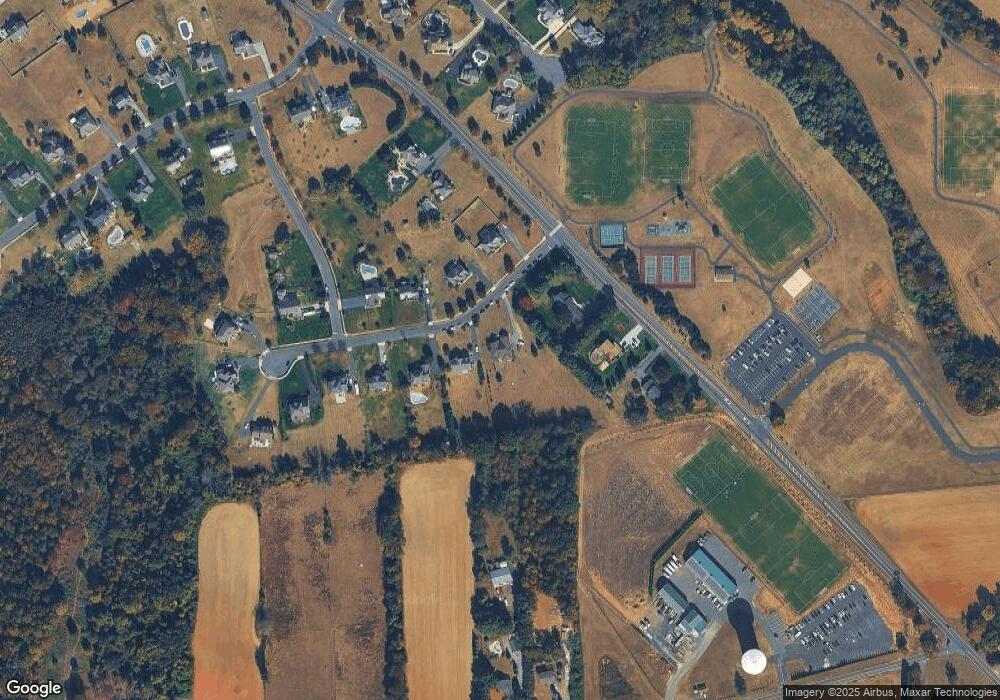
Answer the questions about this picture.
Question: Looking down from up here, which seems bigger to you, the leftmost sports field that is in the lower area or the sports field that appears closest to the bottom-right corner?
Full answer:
The larger object is the sports field that appears closest to the bottom-right corner, with the leftmost sports field that is in the lower area being the smaller of the pair.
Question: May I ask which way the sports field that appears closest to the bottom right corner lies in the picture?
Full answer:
The sports field that appears closest to the bottom right corner has been laid out at an angle relative to the frame.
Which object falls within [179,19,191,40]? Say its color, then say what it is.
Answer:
white swimming pool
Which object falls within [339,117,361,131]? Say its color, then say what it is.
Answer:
white swimming pool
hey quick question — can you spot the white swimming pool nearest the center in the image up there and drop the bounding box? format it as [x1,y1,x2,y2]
[409,391,428,404]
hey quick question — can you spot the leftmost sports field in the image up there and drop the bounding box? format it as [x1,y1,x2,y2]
[562,100,637,210]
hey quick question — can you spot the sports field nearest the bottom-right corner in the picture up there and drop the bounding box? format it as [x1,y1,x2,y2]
[702,462,848,615]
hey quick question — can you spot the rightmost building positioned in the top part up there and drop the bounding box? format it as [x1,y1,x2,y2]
[716,267,735,283]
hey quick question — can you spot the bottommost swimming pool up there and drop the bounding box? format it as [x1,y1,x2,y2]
[489,640,504,653]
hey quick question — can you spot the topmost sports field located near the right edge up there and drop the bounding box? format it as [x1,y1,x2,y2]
[939,89,1000,187]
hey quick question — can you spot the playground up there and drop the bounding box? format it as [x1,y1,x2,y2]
[647,221,690,236]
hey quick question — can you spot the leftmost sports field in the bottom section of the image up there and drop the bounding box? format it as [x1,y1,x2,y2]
[674,431,754,510]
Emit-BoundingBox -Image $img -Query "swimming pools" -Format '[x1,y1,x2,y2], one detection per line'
[409,391,428,404]
[135,33,154,57]
[221,164,235,174]
[489,640,504,653]
[179,19,191,40]
[339,117,361,131]
[106,226,125,246]
[473,49,488,63]
[387,172,408,190]
[503,78,519,88]
[359,263,378,279]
